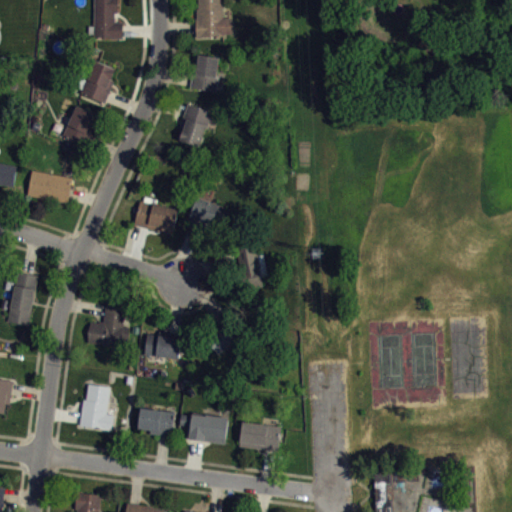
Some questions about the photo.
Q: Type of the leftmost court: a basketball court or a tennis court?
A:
tennis court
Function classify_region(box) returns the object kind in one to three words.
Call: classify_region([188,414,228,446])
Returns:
house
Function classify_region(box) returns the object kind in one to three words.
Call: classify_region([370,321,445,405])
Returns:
tennis court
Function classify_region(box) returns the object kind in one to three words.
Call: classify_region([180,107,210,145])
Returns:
house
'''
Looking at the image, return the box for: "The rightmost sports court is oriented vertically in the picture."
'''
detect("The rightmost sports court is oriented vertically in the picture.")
[450,315,488,400]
